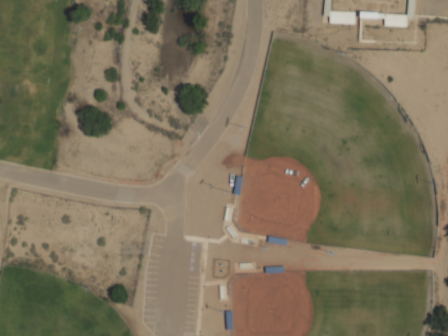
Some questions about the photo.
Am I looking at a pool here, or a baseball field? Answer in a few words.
baseball field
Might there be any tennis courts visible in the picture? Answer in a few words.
No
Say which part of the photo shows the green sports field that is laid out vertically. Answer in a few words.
top left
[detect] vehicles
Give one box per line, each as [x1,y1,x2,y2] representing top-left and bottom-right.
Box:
[299,174,312,188]
[284,170,300,176]
[230,173,235,188]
